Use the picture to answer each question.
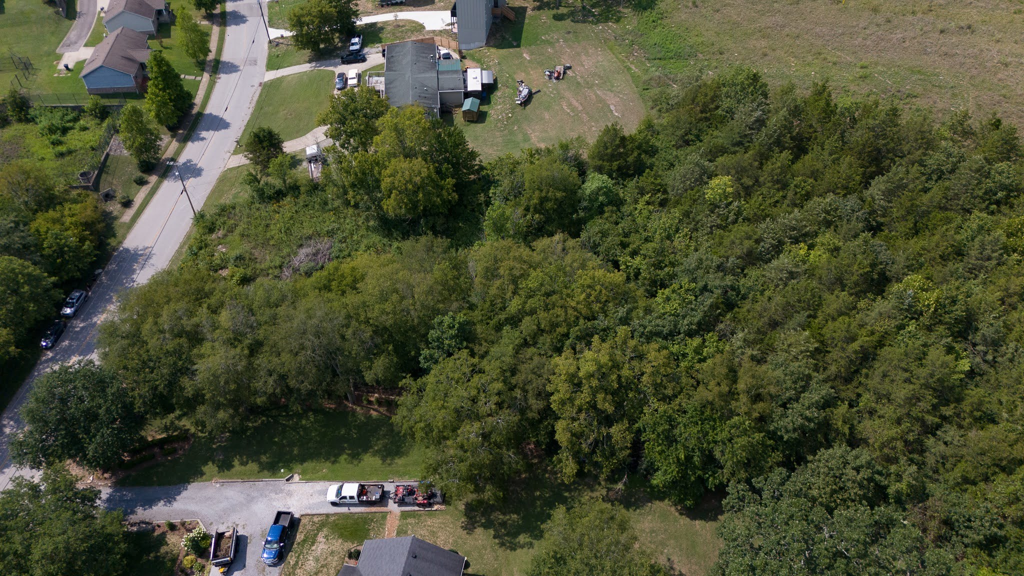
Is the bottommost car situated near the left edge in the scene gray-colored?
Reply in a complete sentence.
No, the bottommost car situated near the left edge is black.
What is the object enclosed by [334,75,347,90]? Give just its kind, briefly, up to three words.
vehicle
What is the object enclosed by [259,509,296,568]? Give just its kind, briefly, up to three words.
truck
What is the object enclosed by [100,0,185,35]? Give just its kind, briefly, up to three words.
building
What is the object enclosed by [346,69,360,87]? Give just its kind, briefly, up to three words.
car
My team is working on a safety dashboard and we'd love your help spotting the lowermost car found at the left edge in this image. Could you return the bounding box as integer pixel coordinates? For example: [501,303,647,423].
[33,318,69,351]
